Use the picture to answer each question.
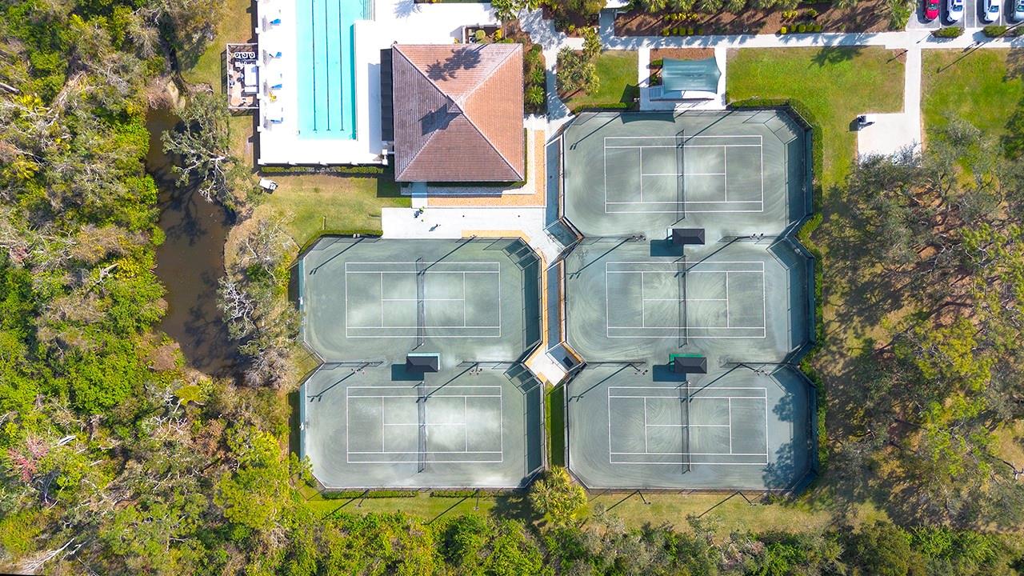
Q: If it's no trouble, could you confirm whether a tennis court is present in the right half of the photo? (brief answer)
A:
Yes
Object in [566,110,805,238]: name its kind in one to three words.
tennis court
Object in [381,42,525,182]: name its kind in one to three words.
building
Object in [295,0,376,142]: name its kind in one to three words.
swimming pool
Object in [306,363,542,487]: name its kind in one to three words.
tennis court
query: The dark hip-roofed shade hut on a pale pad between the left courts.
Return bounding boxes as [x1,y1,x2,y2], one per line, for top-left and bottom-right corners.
[406,354,440,371]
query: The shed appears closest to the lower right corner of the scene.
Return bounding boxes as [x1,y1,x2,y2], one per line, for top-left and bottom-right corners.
[670,355,706,373]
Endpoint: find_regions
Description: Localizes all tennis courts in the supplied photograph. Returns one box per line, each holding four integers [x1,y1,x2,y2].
[305,238,540,363]
[566,238,806,364]
[566,110,805,238]
[306,363,542,487]
[569,364,809,490]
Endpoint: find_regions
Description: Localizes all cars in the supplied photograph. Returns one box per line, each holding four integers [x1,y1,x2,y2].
[1013,0,1024,21]
[949,0,967,22]
[984,0,1002,21]
[925,0,942,20]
